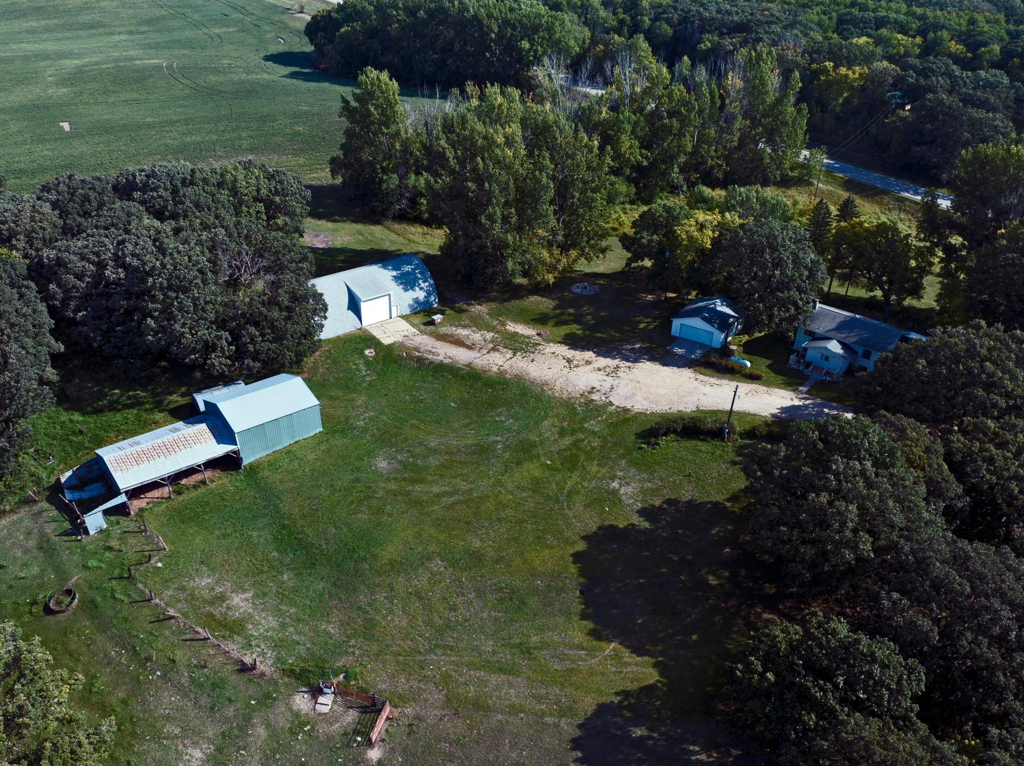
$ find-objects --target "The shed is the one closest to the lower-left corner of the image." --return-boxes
[102,411,241,510]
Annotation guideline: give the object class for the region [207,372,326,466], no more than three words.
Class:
shed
